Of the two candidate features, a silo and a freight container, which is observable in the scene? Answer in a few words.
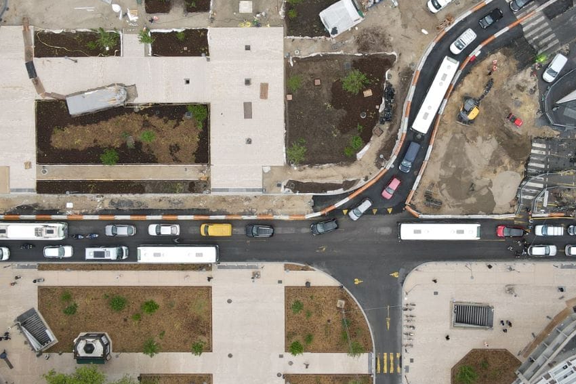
freight container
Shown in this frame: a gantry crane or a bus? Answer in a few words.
bus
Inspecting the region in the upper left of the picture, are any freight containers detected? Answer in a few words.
Yes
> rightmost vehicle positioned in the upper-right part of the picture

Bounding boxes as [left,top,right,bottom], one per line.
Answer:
[541,53,570,83]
